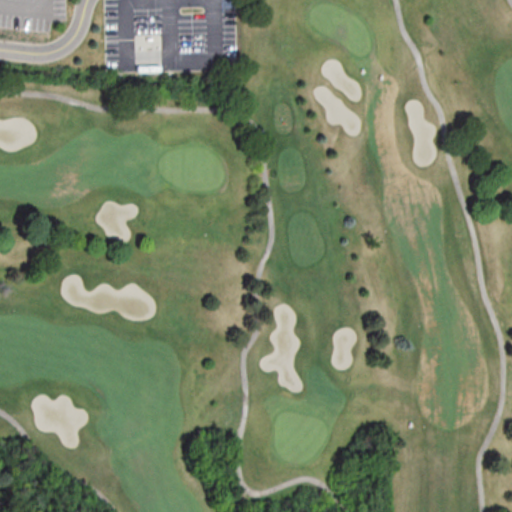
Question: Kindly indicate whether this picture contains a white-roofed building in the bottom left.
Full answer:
No, I can find no white-roofed building in the bottom left.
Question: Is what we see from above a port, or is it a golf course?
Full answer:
What you see here is a golf course.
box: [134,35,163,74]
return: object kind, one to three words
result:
building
